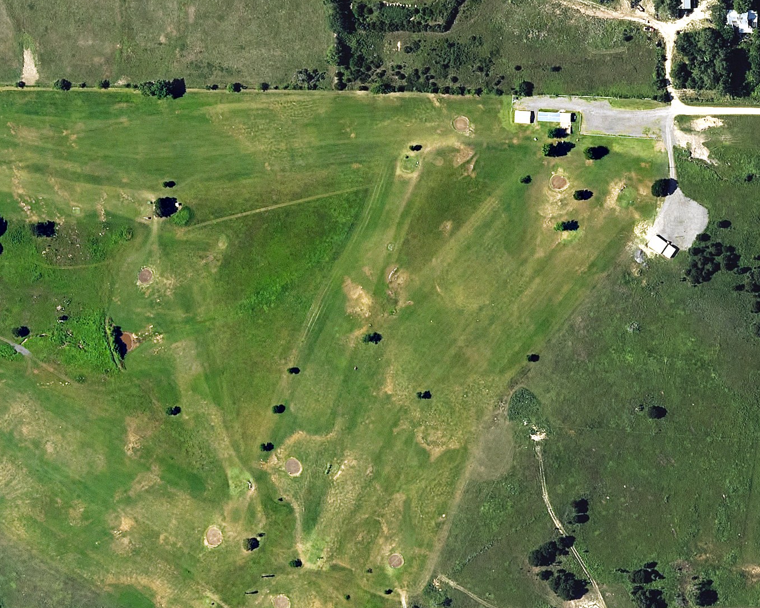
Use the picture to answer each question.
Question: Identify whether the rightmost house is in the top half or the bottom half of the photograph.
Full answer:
You can find the rightmost house in the top half.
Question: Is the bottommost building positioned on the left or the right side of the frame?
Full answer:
The bottommost building sits on the right side.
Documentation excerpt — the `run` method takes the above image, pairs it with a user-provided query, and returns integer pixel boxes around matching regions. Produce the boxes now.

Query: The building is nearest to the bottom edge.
[648,235,680,261]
